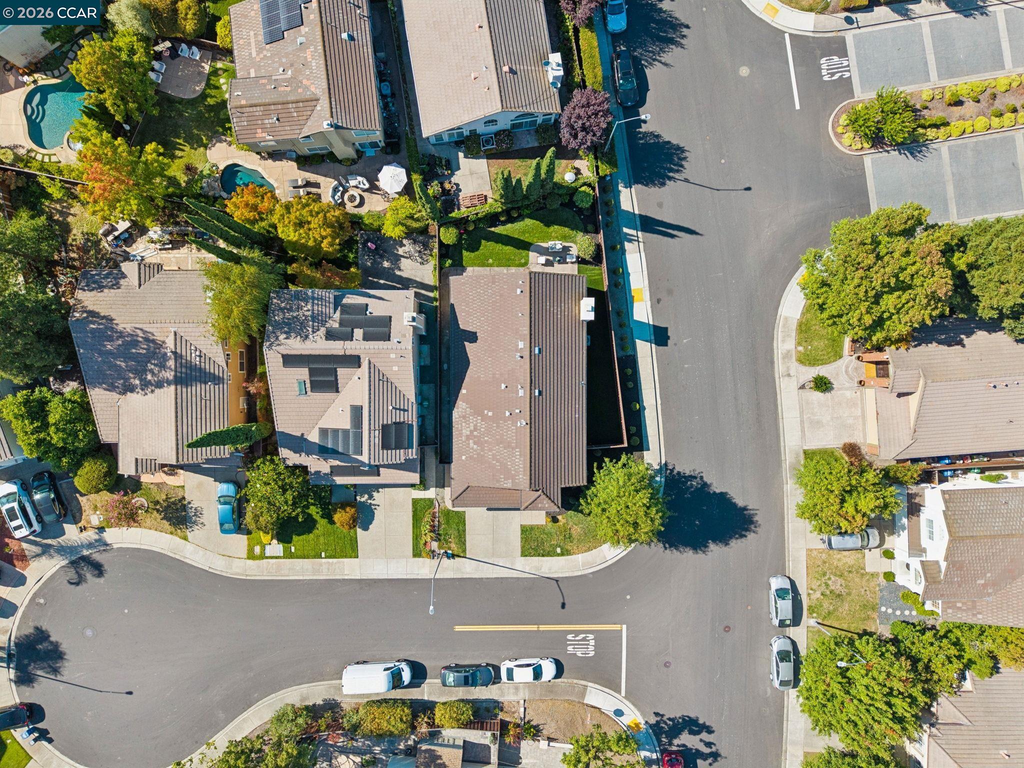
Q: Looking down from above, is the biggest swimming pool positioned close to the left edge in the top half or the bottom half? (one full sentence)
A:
It is in the top half that the biggest swimming pool positioned close to the left edge appears.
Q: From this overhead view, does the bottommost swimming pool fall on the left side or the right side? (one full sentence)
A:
The bottommost swimming pool is on the left side of the image.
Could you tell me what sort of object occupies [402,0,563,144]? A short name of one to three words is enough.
house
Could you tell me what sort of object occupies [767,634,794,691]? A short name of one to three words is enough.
car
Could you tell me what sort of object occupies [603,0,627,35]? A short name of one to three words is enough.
car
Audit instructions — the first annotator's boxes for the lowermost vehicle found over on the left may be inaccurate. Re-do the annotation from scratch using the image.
[0,698,40,729]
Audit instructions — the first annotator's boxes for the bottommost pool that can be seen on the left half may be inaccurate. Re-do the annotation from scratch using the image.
[216,159,281,205]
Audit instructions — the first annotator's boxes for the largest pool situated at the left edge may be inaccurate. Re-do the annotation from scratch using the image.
[19,70,97,154]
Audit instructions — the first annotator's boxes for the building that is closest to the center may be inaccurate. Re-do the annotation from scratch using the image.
[450,271,595,511]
